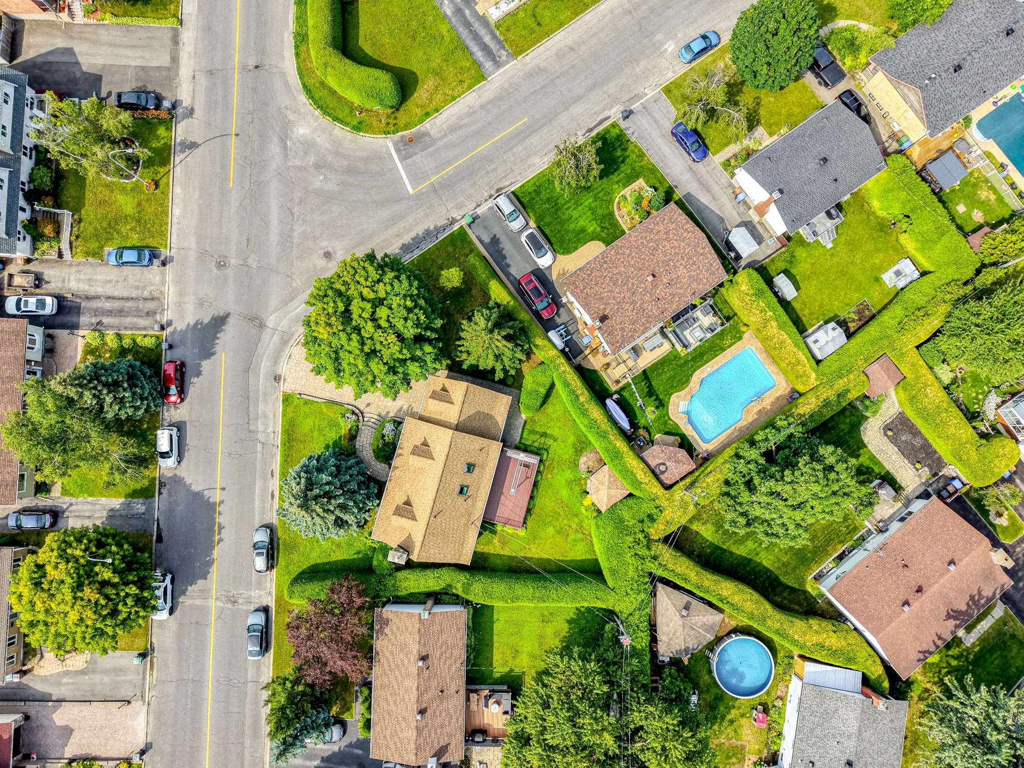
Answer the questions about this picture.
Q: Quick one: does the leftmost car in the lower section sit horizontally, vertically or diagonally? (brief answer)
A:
horizontally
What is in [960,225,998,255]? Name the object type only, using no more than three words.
shed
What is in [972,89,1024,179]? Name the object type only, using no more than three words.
swimming pool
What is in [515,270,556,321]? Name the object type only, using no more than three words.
car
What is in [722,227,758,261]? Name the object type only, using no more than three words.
trailer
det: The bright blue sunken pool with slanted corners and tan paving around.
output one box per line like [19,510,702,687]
[678,346,778,444]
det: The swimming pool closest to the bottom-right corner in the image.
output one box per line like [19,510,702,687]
[696,627,776,701]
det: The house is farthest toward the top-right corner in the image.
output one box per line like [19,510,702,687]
[854,0,1024,148]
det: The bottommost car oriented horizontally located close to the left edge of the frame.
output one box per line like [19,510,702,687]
[6,508,56,533]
